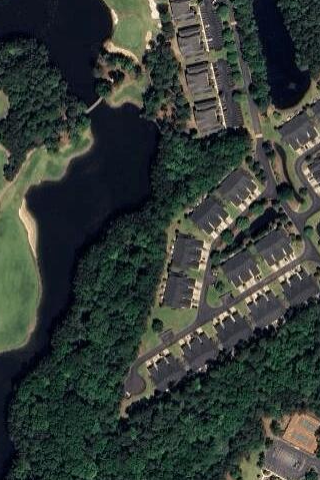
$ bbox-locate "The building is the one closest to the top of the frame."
[170,0,198,24]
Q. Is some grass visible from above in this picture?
Yes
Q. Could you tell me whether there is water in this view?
Yes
